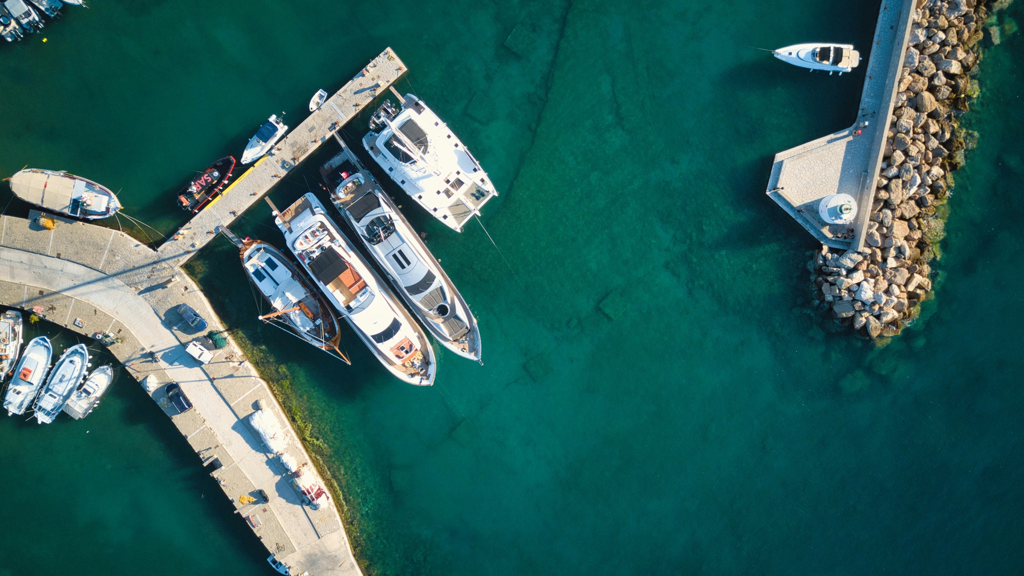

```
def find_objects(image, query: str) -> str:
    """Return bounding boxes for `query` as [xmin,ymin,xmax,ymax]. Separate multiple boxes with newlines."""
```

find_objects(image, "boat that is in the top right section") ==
[772,41,863,74]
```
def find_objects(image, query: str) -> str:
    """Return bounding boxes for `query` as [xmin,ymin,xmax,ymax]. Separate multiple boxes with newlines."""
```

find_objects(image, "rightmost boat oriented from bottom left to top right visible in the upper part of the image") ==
[368,99,400,130]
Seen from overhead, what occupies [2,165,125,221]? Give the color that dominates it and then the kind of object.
white boat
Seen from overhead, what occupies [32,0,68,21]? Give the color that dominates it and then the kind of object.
blue boat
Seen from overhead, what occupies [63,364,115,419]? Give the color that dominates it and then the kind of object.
white boat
